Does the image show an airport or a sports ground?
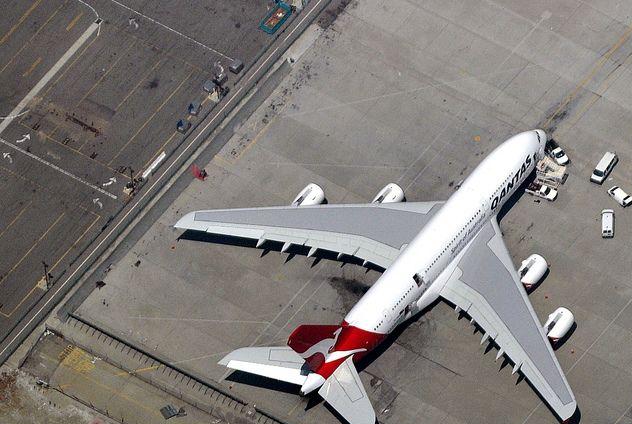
airport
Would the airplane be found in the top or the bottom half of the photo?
bottom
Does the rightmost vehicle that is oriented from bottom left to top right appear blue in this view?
No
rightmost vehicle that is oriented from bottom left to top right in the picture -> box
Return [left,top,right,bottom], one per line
[590,151,617,186]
